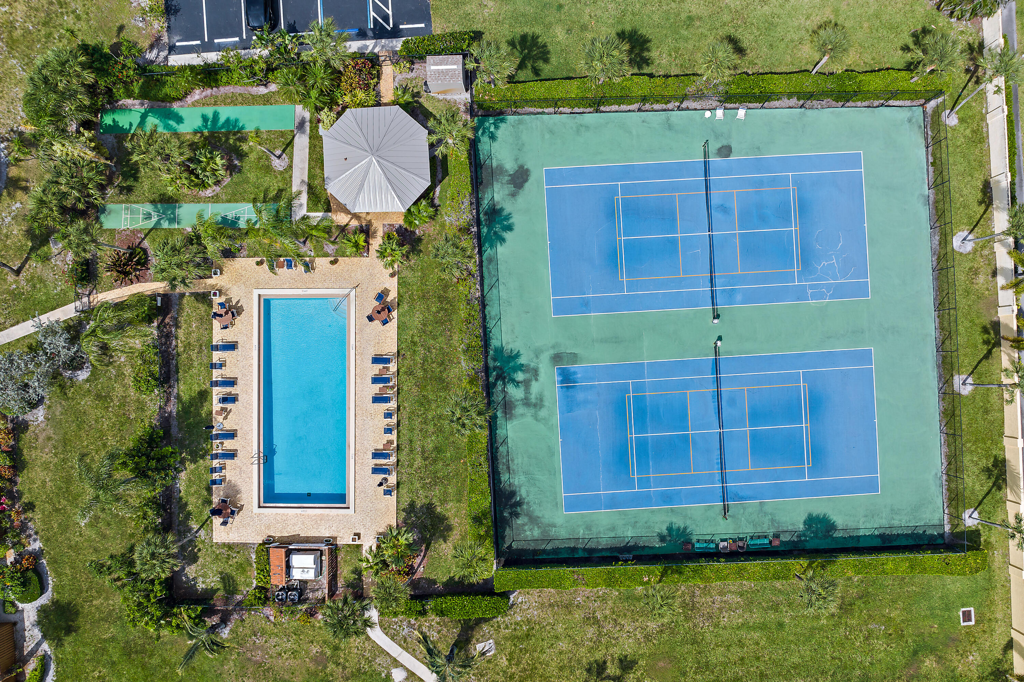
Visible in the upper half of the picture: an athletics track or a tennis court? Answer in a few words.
tennis court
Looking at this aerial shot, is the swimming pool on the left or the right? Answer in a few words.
left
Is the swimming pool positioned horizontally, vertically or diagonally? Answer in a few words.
vertically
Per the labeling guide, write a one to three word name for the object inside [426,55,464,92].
shed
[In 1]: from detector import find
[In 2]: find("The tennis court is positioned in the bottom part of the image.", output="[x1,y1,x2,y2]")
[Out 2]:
[555,347,881,514]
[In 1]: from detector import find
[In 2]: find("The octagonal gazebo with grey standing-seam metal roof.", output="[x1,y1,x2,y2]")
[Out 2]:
[321,105,431,213]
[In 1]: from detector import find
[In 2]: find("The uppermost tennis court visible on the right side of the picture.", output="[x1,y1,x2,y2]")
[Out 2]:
[543,151,871,317]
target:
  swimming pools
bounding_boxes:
[252,288,355,514]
